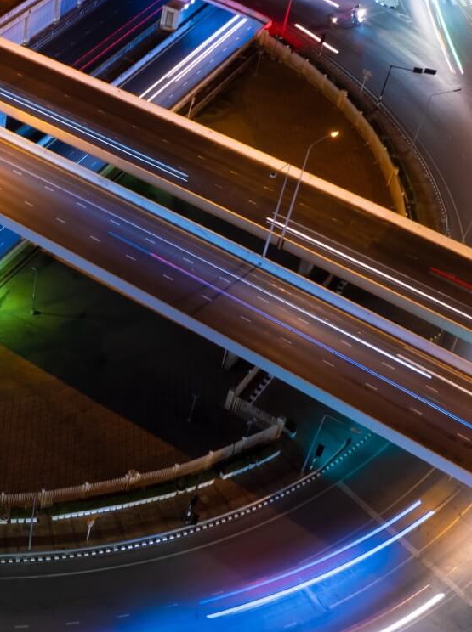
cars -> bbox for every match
[327,1,367,21]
